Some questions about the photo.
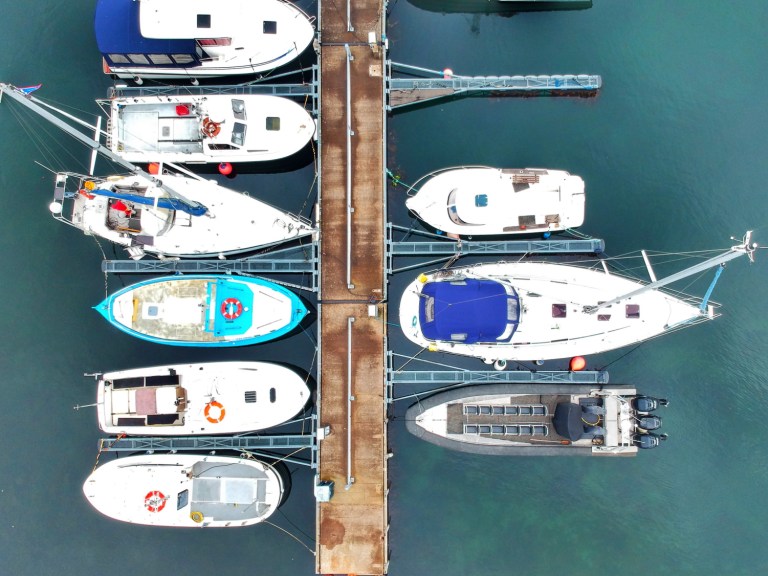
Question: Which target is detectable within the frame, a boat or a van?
boat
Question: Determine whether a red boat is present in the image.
No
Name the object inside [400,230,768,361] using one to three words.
boat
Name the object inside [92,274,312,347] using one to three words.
boat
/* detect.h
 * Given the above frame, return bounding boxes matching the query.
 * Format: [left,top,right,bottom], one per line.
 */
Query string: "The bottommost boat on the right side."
[404,382,662,456]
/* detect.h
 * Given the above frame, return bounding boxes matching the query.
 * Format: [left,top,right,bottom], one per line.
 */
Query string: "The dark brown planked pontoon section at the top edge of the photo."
[320,0,386,44]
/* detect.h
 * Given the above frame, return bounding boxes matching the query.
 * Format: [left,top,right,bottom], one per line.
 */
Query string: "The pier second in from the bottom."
[318,44,386,300]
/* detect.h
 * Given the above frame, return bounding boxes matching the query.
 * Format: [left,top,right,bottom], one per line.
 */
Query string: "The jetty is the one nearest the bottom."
[317,302,386,572]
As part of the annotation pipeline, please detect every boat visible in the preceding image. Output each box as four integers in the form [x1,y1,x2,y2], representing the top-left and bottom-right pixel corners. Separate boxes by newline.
[405,166,586,236]
[0,80,319,260]
[95,0,320,82]
[92,274,312,347]
[400,230,768,361]
[74,361,310,435]
[97,94,316,164]
[79,452,285,527]
[404,382,662,456]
